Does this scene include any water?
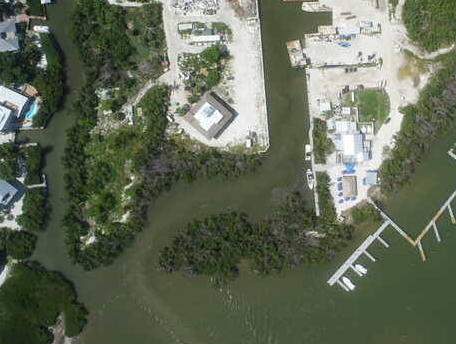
Yes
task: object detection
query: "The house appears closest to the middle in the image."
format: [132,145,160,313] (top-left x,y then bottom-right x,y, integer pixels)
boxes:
[184,92,234,138]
